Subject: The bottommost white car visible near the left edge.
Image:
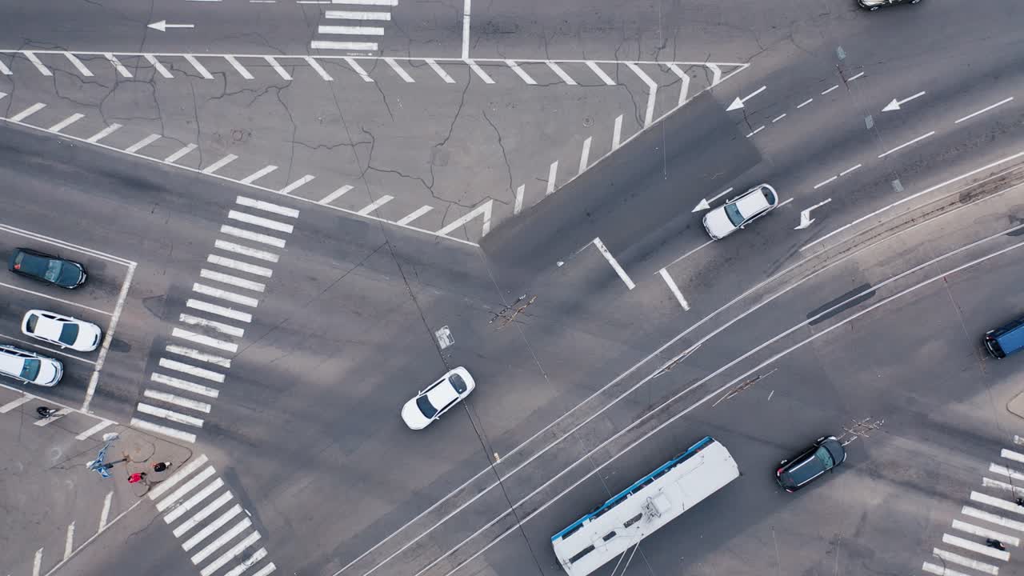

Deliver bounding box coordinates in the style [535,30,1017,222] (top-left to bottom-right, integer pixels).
[0,341,64,386]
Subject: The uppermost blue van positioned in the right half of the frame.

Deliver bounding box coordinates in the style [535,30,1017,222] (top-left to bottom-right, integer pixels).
[984,313,1024,360]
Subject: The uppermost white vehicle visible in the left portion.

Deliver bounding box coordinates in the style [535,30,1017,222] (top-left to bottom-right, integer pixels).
[21,309,102,352]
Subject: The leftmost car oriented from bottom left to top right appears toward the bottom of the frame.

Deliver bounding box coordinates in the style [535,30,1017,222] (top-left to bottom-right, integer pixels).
[402,368,475,429]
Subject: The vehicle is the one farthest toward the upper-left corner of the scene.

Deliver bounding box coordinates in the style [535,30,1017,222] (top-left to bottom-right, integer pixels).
[7,247,88,290]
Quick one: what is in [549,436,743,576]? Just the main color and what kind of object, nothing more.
white bus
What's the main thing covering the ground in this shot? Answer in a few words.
paved ground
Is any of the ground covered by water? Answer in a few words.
No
